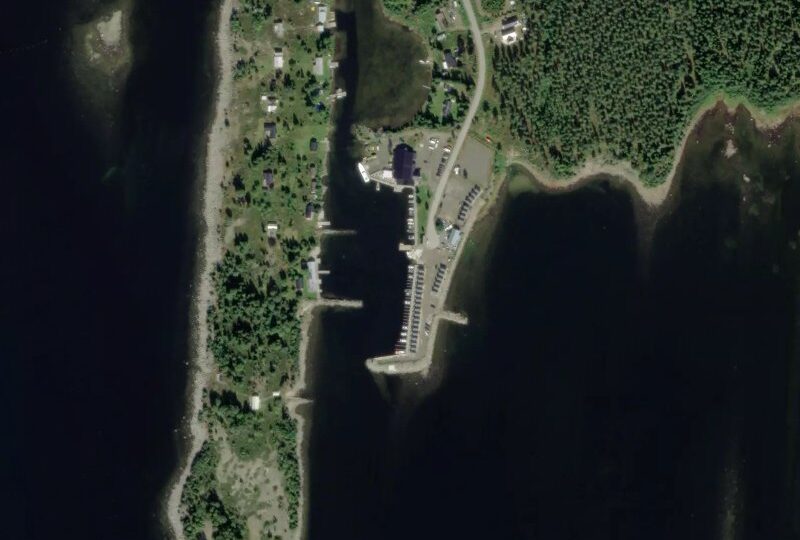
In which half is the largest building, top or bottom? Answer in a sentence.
Seen from above, the largest building lies in the top half of the view.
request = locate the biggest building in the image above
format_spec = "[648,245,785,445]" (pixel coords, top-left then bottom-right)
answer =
[393,150,420,187]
